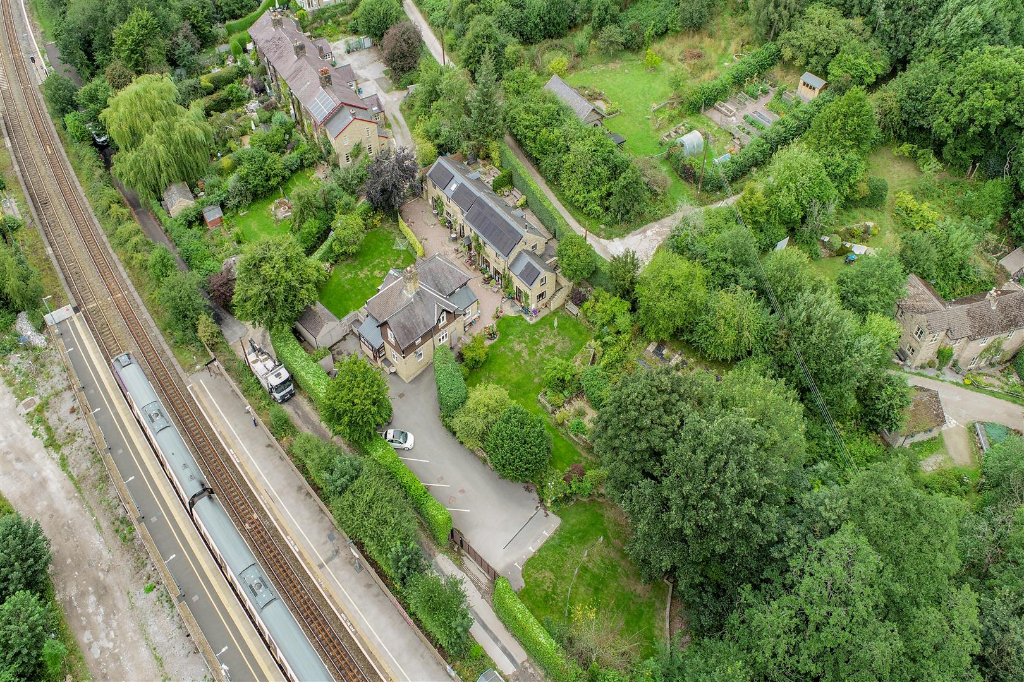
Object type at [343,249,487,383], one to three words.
house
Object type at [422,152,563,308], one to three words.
house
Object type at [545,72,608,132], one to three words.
barn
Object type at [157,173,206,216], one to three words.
building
